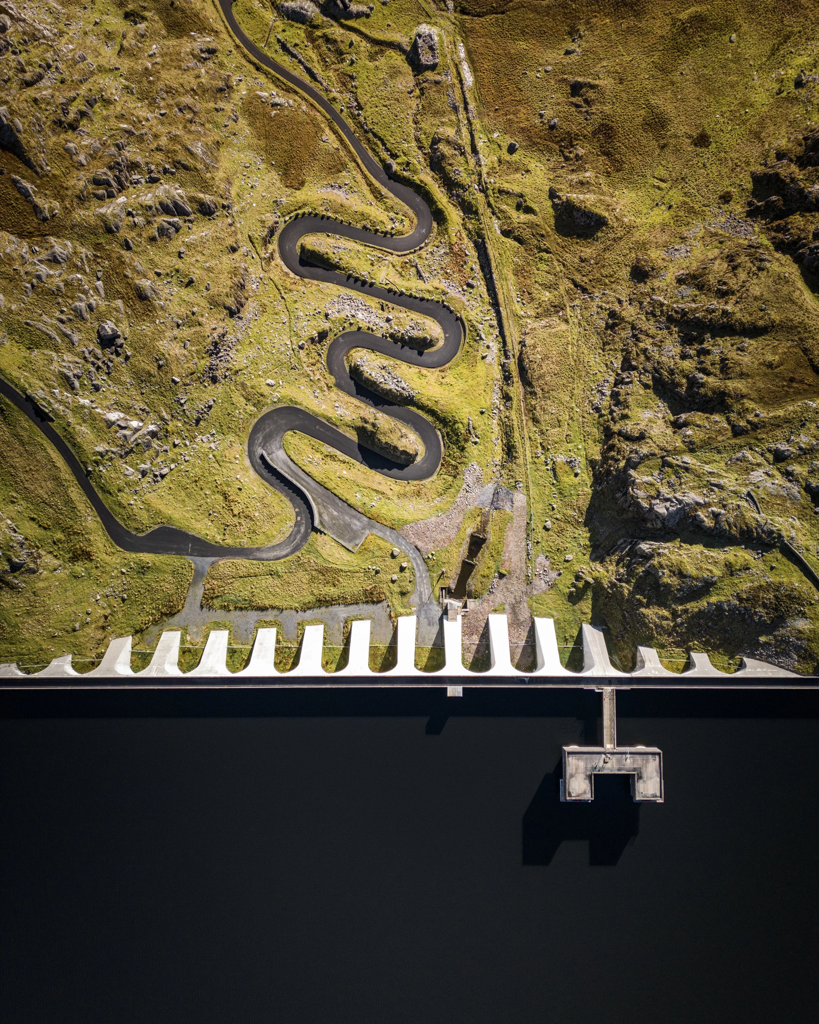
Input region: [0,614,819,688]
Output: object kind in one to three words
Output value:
dam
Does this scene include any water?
Yes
